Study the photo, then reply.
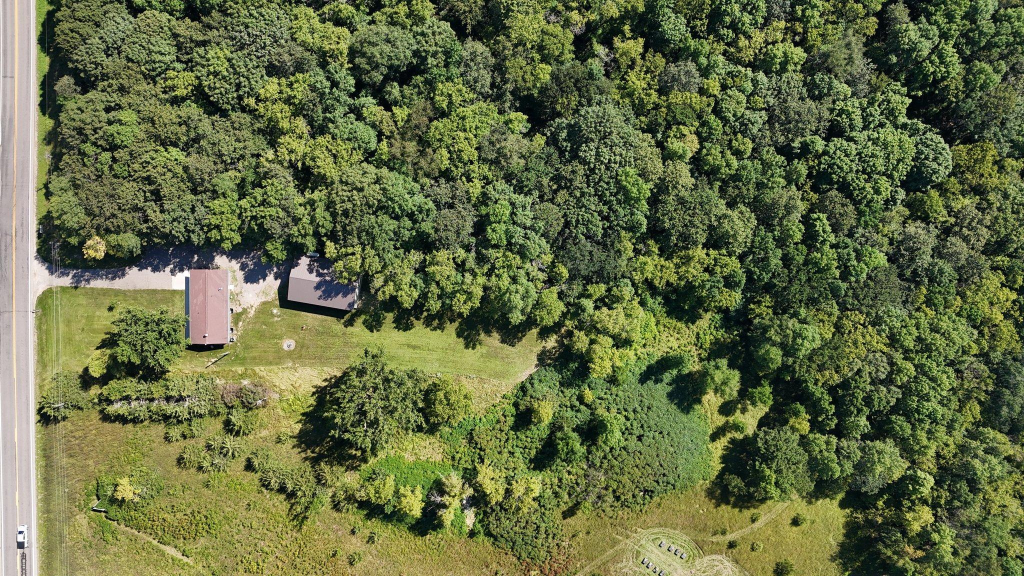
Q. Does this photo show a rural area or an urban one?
rural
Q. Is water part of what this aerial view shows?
No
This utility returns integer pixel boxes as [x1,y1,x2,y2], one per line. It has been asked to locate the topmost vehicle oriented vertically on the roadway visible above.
[16,523,29,550]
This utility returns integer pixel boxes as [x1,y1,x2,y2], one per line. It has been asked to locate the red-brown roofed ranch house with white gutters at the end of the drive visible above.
[190,269,236,345]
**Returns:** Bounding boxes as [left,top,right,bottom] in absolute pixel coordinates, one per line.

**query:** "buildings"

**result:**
[288,254,360,310]
[190,269,236,345]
